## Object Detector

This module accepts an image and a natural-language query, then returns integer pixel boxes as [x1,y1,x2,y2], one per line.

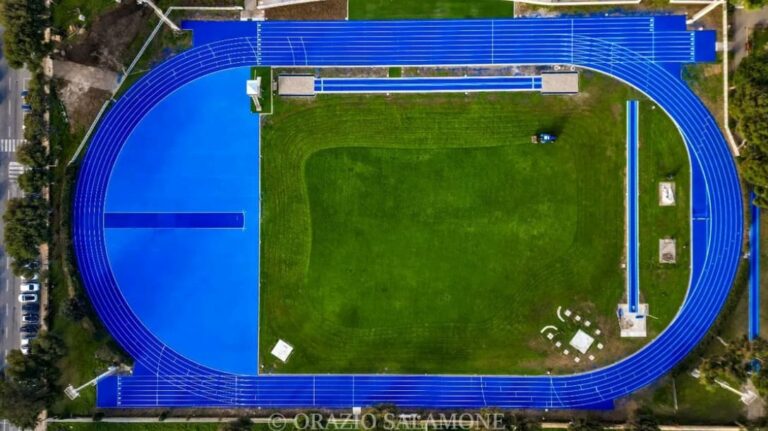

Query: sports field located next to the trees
[251,63,691,375]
